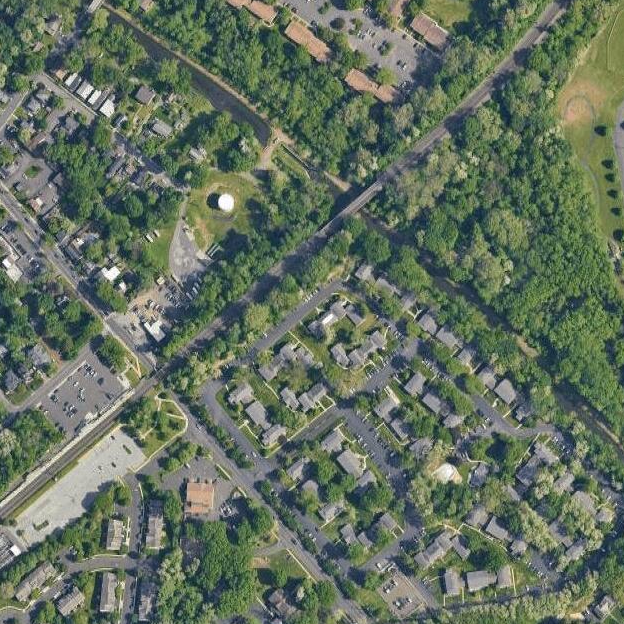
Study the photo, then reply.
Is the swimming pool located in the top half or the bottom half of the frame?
bottom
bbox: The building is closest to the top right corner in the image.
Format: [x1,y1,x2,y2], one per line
[410,14,450,50]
